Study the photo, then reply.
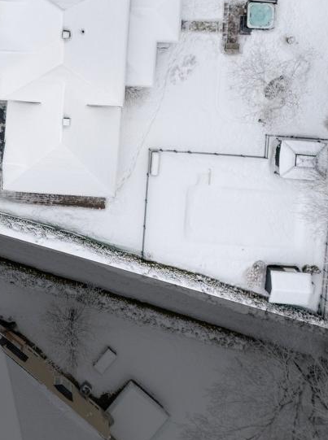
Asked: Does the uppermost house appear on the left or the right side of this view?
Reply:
left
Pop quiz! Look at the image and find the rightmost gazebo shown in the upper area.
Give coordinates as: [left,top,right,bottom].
[271,136,327,179]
